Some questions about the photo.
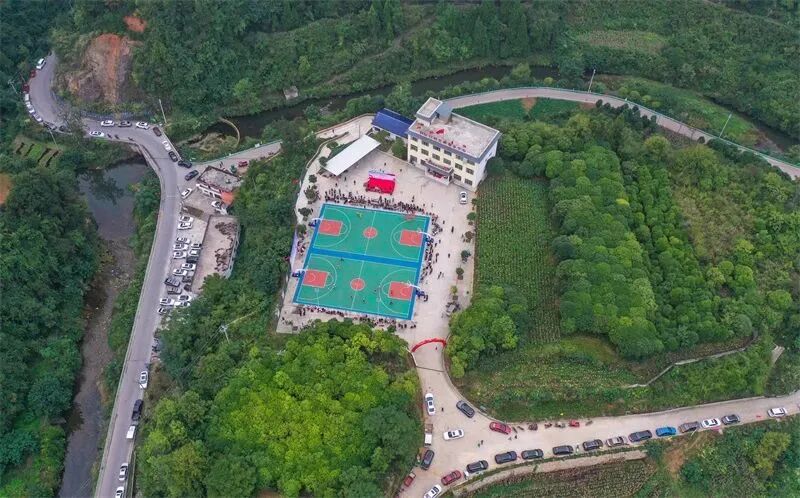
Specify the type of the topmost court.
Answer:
basketball court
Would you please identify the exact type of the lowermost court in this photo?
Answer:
basketball court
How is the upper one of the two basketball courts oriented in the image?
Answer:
from left to right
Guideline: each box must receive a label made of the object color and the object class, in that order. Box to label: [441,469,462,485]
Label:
red car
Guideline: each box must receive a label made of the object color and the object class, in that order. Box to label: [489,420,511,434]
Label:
red car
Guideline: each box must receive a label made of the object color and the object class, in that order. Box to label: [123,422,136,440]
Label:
white vehicle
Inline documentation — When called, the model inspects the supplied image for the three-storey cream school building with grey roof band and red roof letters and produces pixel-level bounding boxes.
[406,96,503,191]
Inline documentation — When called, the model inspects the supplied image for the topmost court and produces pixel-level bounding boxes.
[313,206,426,262]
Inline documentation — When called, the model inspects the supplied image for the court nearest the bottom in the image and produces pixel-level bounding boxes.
[297,253,417,317]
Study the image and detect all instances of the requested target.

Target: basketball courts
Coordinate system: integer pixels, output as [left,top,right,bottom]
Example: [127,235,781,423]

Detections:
[297,253,417,317]
[313,206,426,262]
